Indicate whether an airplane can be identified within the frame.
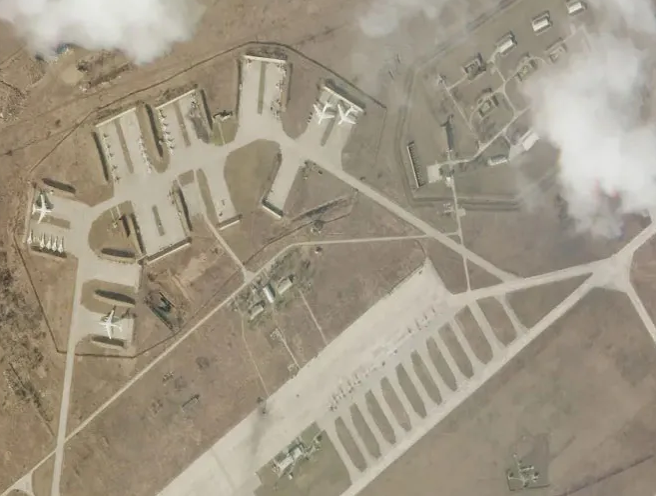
Yes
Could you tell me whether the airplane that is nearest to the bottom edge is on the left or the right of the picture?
left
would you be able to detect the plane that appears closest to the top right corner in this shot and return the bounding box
[338,103,357,124]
